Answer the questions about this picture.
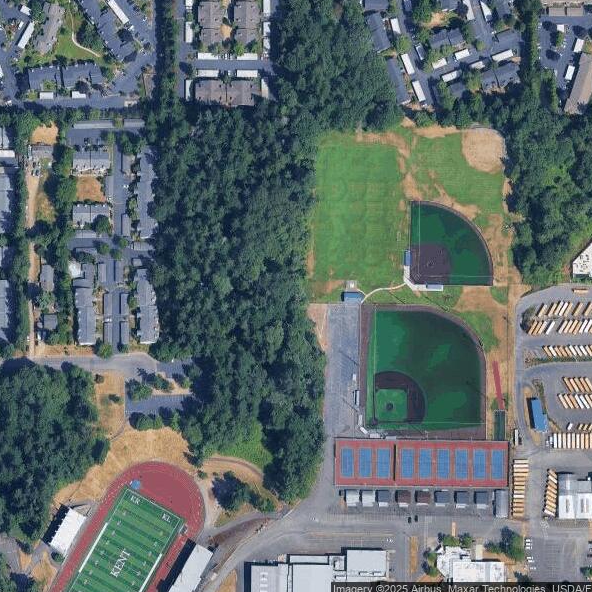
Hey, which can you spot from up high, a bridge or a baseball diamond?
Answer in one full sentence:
There is a baseball diamond in the scene.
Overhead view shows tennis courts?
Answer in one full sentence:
Yes, there's a tennis court here.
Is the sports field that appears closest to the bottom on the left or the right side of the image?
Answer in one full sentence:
It is on the left.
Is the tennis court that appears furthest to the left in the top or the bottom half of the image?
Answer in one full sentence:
The bottom half of the photo is where the tennis court that appears furthest to the left is.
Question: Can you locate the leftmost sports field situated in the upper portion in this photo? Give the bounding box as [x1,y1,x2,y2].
[315,146,404,287]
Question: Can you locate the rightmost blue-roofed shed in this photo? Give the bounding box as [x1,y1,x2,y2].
[530,397,549,432]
